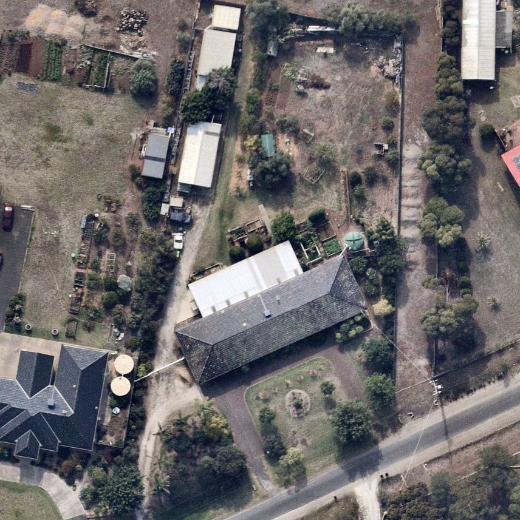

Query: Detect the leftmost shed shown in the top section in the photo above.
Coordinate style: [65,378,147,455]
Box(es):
[141,134,170,179]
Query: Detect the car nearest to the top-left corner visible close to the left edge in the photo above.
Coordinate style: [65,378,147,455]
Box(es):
[1,204,15,230]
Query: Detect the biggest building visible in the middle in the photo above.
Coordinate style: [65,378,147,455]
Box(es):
[175,241,365,383]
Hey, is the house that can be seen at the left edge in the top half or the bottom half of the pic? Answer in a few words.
bottom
